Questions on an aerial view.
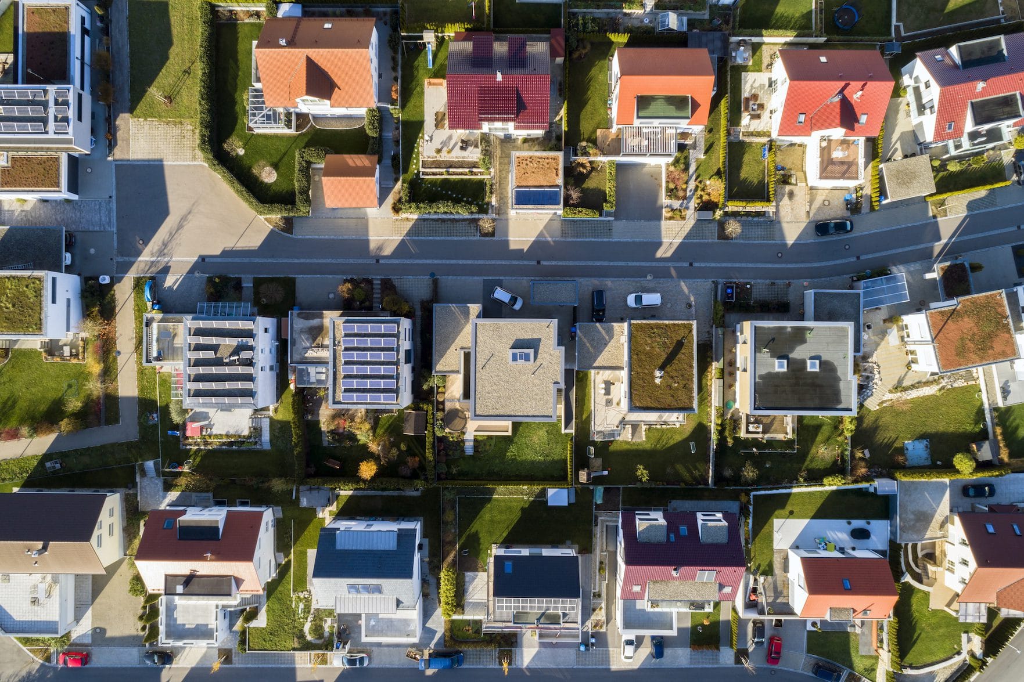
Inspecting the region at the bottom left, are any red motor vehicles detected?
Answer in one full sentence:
Yes, a red motor vehicle can be seen at the bottom left.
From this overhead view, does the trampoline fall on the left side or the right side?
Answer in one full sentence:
The trampoline is on the right side of the image.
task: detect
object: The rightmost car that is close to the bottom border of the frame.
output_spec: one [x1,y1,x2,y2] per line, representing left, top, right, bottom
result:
[809,660,846,682]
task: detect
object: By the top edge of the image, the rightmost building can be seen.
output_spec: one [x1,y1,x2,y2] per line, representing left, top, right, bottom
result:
[893,33,1024,159]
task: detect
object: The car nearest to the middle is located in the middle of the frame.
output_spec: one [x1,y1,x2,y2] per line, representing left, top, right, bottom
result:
[489,284,524,312]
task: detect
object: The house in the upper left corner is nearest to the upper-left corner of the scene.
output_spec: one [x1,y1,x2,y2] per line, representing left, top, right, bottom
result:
[0,0,95,148]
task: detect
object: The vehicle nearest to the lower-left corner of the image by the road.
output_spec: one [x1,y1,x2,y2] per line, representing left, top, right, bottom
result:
[58,652,89,670]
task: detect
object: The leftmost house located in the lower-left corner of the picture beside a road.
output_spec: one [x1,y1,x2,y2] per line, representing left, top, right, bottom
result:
[0,488,126,637]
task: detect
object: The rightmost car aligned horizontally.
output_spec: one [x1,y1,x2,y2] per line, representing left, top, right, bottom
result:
[961,483,997,500]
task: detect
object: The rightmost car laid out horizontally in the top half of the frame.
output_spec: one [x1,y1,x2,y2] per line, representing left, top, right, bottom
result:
[815,218,854,235]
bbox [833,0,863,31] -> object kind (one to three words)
trampoline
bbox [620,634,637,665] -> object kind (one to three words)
car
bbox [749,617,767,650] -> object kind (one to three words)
car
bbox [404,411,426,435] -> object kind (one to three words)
shed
